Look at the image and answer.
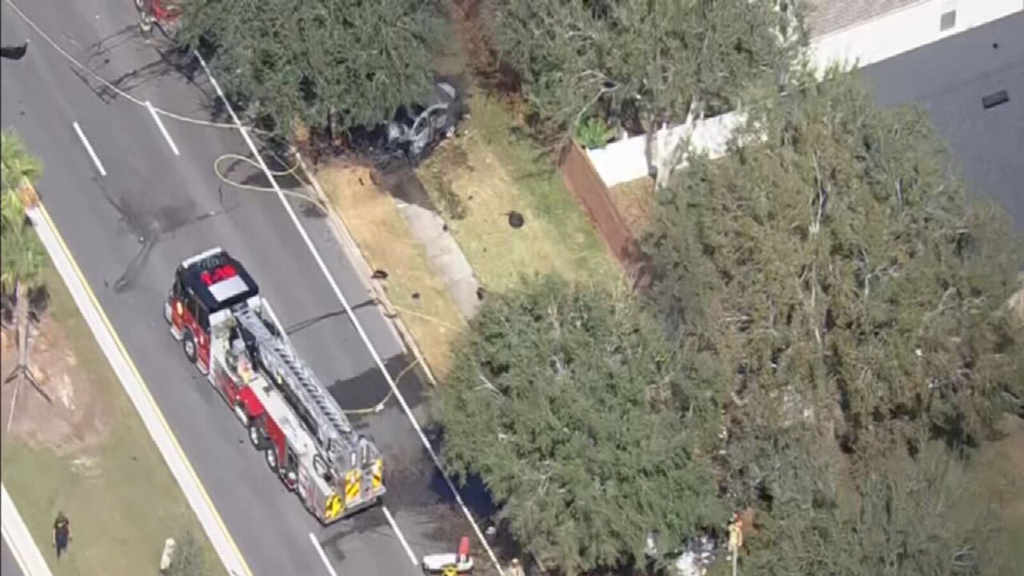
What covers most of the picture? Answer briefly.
trees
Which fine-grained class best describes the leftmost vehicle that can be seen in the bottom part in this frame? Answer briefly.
truck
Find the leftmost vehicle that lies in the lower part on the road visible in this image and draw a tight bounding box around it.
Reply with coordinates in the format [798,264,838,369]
[165,236,382,526]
